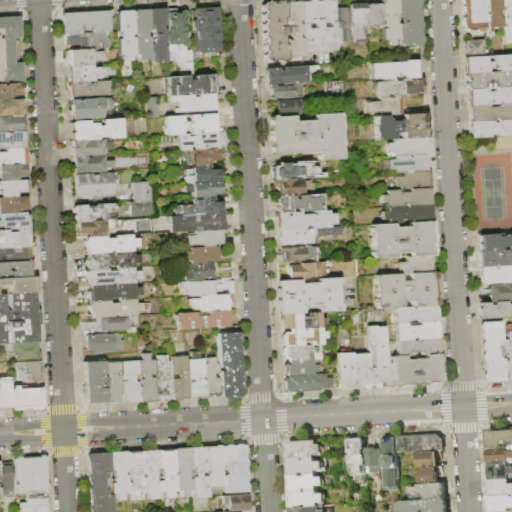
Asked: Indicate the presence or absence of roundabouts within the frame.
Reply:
No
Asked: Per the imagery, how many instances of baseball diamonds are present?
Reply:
0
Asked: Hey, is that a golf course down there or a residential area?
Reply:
residential area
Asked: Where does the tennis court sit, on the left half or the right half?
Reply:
right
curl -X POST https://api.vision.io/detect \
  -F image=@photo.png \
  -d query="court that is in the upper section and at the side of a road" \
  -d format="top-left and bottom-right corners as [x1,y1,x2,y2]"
[474,154,512,230]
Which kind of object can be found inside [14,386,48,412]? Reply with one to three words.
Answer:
building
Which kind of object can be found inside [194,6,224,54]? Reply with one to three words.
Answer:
building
